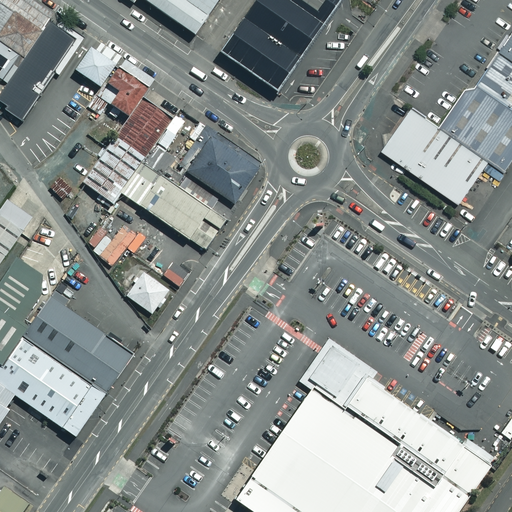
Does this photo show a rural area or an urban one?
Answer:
urban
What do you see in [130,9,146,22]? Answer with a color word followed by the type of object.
white vehicle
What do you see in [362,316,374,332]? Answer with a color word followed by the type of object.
red vehicle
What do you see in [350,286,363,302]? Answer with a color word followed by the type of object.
white vehicle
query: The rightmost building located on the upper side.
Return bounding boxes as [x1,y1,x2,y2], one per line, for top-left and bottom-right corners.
[438,30,512,173]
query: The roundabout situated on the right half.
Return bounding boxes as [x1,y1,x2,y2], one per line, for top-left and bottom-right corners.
[288,134,330,178]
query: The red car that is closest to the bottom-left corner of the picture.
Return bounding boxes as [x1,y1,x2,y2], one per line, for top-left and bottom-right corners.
[74,271,90,284]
